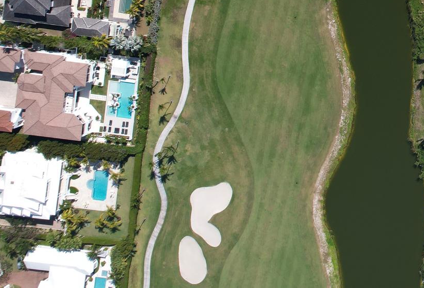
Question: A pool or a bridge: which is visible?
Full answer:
The one in the frame is a pool.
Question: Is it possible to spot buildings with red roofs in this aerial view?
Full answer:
Yes, there is a building with a red roof in the image.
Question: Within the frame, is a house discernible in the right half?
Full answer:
No, the scene shows no house in the right half.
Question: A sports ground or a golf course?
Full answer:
What you see here is a golf course.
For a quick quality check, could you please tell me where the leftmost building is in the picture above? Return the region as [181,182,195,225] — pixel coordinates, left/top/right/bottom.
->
[0,110,18,133]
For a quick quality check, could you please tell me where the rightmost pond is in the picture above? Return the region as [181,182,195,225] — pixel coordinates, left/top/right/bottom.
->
[325,0,424,288]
